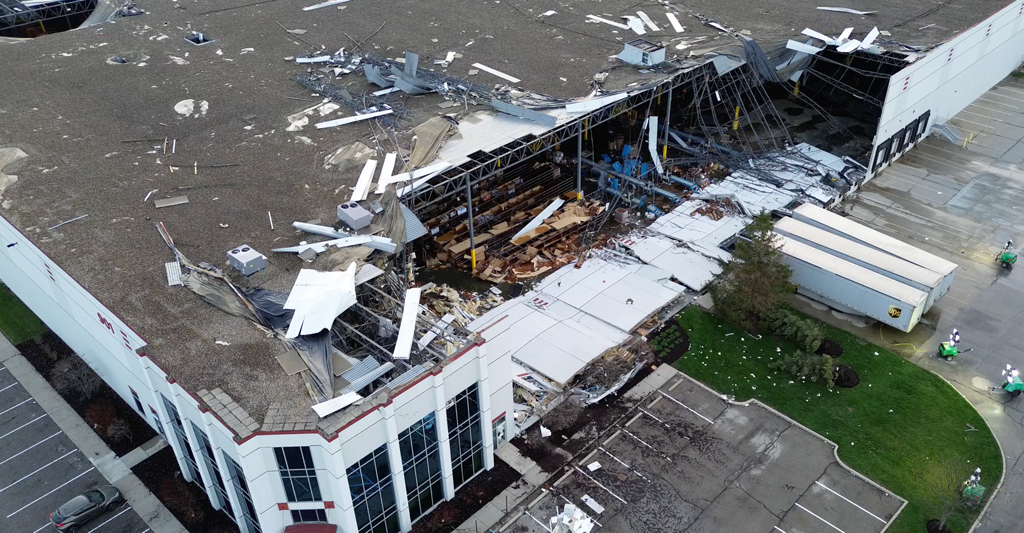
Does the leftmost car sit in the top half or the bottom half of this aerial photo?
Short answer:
bottom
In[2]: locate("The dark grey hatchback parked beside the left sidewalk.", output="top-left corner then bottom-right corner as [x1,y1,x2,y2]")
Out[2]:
[48,486,119,533]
